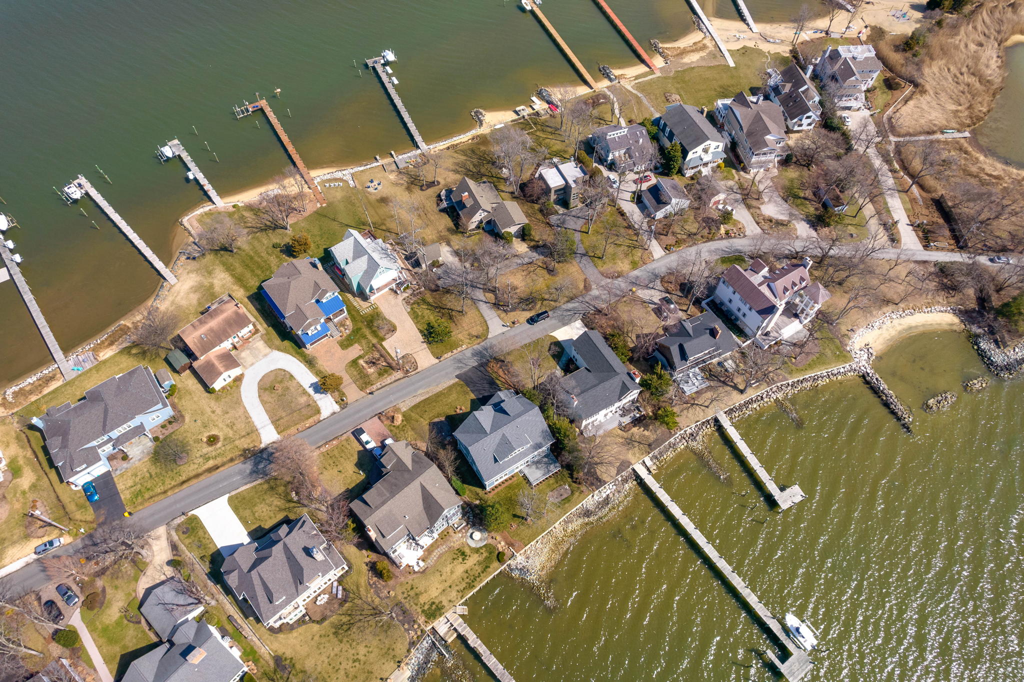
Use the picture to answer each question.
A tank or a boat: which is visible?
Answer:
boat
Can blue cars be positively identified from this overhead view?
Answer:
Yes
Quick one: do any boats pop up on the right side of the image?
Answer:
Yes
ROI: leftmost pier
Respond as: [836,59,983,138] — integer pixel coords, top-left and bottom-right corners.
[0,238,73,381]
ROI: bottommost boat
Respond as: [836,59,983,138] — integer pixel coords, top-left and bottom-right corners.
[788,616,819,651]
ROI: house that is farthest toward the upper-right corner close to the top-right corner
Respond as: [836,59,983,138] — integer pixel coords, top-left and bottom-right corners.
[811,41,882,114]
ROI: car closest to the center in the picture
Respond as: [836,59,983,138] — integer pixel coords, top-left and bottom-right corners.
[528,309,551,326]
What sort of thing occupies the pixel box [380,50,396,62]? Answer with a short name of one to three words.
boat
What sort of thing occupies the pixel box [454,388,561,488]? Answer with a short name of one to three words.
house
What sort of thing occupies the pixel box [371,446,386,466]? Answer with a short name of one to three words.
car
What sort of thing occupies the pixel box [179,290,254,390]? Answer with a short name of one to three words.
house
